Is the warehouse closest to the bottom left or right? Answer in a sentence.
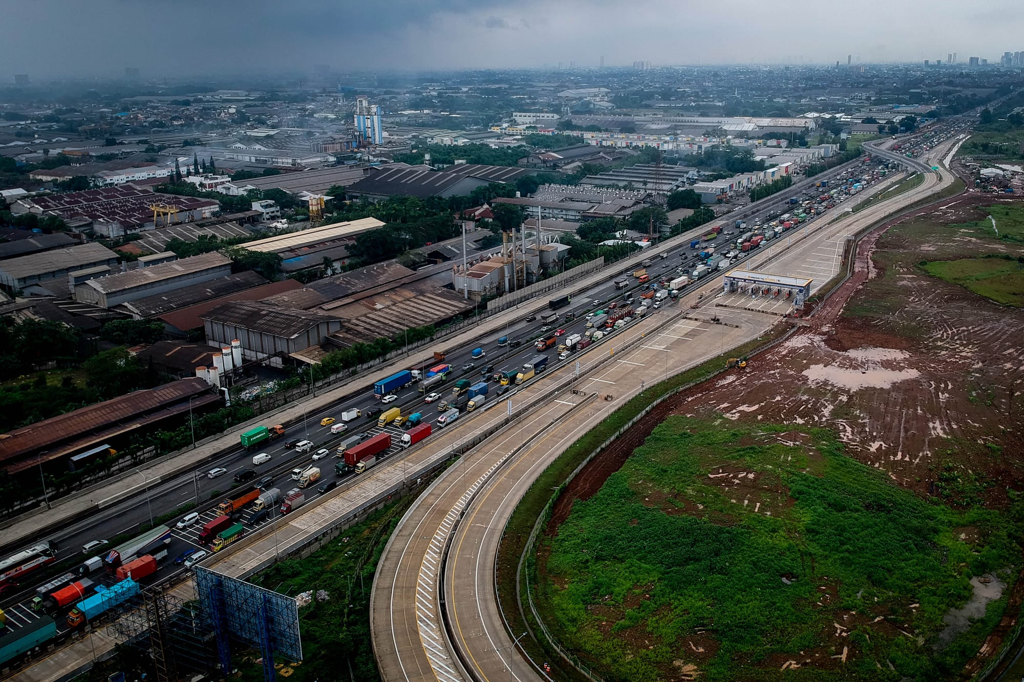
The warehouse closest to the bottom appears in the left half of the scene.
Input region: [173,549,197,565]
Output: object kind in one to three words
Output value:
car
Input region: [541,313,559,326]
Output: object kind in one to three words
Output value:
vehicle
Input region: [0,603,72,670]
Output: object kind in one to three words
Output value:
truck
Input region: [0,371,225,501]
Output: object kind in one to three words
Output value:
warehouse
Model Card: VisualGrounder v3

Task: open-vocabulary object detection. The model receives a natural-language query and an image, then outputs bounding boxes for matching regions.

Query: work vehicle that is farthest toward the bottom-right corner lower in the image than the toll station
[713,353,741,369]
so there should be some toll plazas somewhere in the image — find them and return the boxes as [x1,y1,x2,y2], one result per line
[724,267,818,306]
